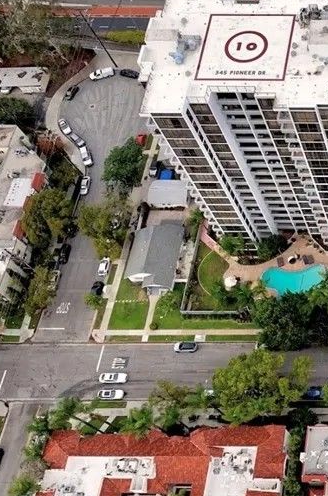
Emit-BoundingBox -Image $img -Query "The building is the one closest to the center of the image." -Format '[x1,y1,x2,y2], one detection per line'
[125,225,187,293]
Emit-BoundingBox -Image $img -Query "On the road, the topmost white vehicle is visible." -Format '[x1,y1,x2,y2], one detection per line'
[91,68,116,80]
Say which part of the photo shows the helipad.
top right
